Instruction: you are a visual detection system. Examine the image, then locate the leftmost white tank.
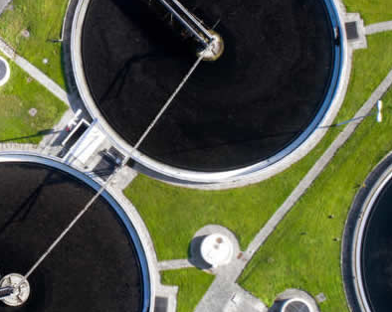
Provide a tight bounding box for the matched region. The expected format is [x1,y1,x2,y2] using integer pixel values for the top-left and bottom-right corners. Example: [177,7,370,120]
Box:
[199,233,233,265]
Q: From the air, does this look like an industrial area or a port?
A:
industrial area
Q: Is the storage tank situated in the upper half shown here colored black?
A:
Yes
